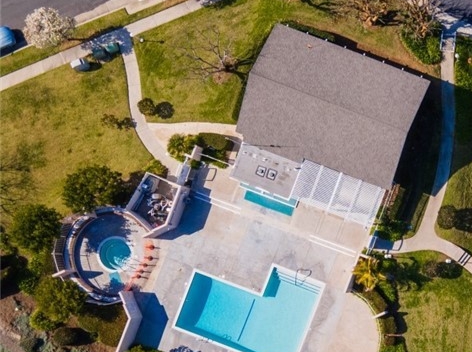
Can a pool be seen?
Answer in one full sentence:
Yes, a pool appears in the view.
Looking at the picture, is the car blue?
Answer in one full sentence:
Yes, the car is indeed blue.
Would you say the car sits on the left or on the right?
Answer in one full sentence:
The car is on the left side of the image.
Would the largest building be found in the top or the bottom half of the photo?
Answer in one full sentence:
The largest building is in the top half of the image.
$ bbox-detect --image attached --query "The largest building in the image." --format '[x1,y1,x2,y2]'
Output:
[230,24,431,208]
